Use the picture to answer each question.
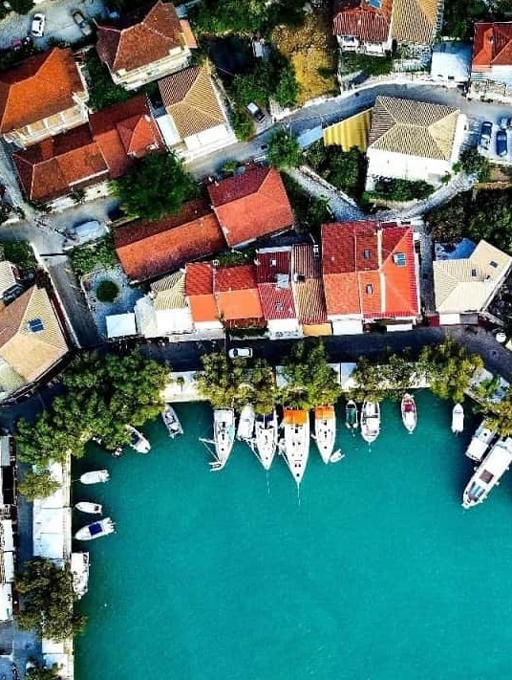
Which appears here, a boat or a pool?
boat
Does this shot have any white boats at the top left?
No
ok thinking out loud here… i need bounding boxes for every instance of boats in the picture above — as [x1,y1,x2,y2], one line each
[451,399,465,436]
[462,435,512,512]
[122,422,150,452]
[75,501,104,515]
[72,469,112,485]
[73,551,90,599]
[330,450,343,463]
[465,421,495,459]
[245,409,279,477]
[312,405,337,464]
[206,462,218,470]
[236,406,254,441]
[163,407,183,438]
[275,407,311,486]
[360,401,381,446]
[277,435,284,451]
[401,393,417,436]
[345,393,358,432]
[74,517,117,546]
[196,402,234,470]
